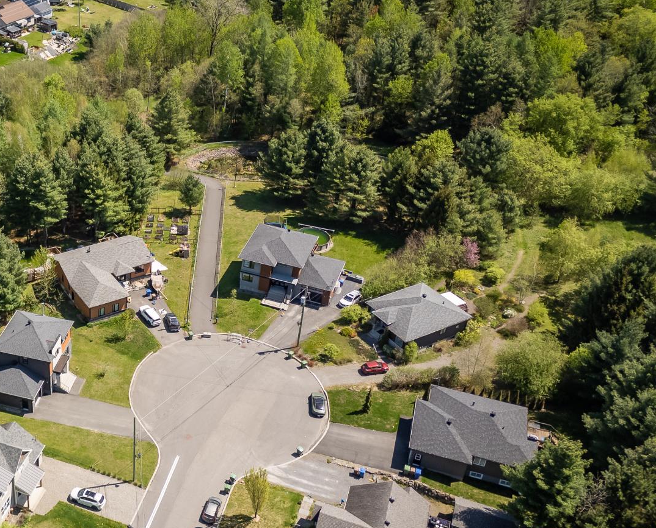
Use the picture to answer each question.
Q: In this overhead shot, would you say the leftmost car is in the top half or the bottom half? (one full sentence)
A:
You can find the leftmost car in the bottom half.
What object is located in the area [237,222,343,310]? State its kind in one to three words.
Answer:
house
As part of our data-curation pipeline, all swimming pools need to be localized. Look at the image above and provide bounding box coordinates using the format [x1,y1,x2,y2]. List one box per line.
[301,222,339,247]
